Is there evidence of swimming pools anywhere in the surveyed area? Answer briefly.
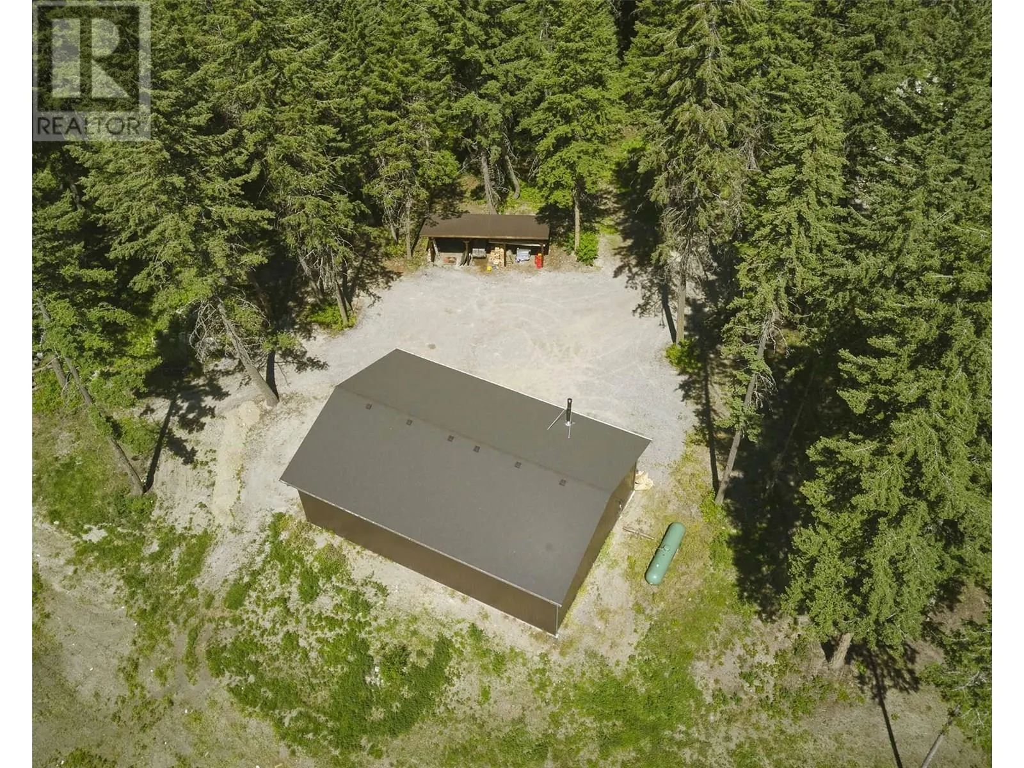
No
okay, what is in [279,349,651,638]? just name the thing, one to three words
building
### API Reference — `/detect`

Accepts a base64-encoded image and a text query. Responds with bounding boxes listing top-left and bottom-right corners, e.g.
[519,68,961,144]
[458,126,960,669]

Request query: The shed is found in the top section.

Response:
[418,215,550,270]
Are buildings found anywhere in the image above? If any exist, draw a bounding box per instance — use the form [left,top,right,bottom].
[418,215,550,270]
[279,349,651,638]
